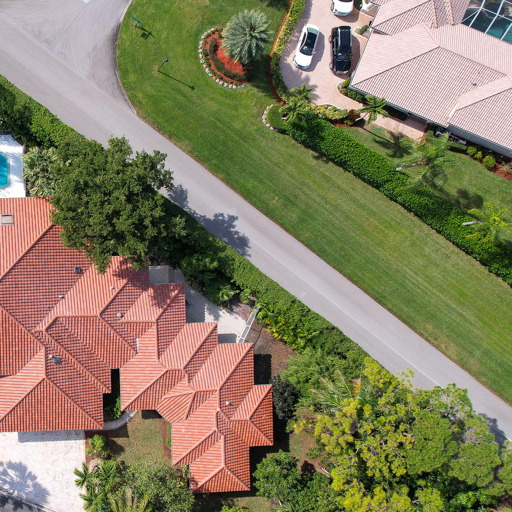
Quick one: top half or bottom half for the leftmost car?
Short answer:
top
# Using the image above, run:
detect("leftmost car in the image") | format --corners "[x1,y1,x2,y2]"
[290,21,321,74]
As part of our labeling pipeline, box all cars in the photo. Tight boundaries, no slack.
[328,24,356,76]
[290,21,321,74]
[330,0,356,18]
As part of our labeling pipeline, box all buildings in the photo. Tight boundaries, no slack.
[343,0,512,161]
[0,196,275,494]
